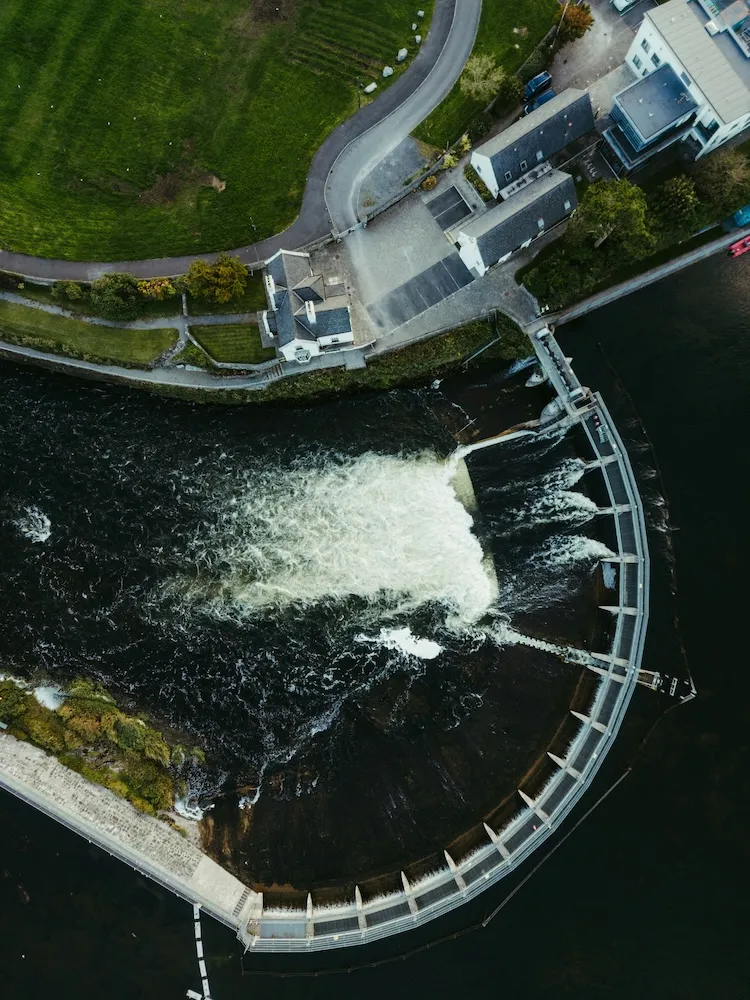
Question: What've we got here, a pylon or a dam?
dam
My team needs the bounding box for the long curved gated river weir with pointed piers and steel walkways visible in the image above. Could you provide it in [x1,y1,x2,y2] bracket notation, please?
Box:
[247,396,653,956]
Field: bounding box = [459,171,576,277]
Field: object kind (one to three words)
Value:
house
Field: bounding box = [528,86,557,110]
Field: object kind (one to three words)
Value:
car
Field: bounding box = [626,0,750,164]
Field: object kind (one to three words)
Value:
building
